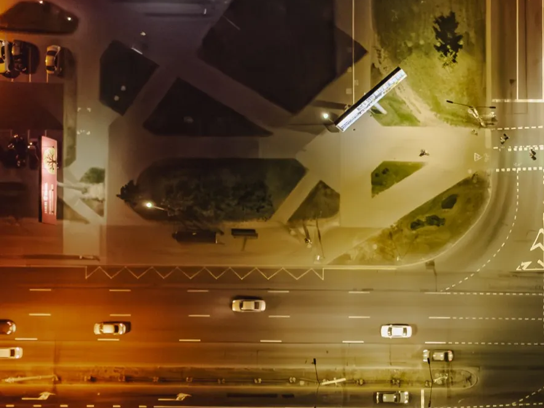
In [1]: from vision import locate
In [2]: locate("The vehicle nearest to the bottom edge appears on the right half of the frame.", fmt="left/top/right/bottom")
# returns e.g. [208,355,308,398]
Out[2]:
[376,389,410,406]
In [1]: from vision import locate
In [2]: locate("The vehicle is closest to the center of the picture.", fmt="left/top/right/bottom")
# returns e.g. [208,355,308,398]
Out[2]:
[232,296,267,312]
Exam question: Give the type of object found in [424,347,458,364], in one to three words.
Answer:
car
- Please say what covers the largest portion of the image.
paved ground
